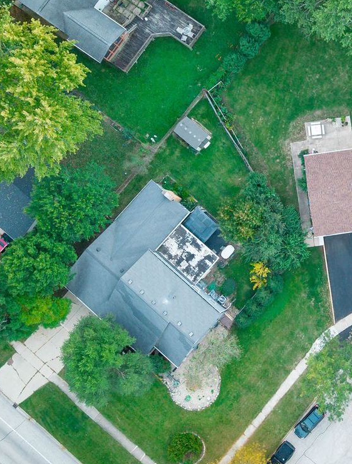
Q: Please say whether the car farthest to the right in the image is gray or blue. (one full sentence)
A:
The car farthest to the right looks blue in the image.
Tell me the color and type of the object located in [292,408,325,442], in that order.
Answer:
blue car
